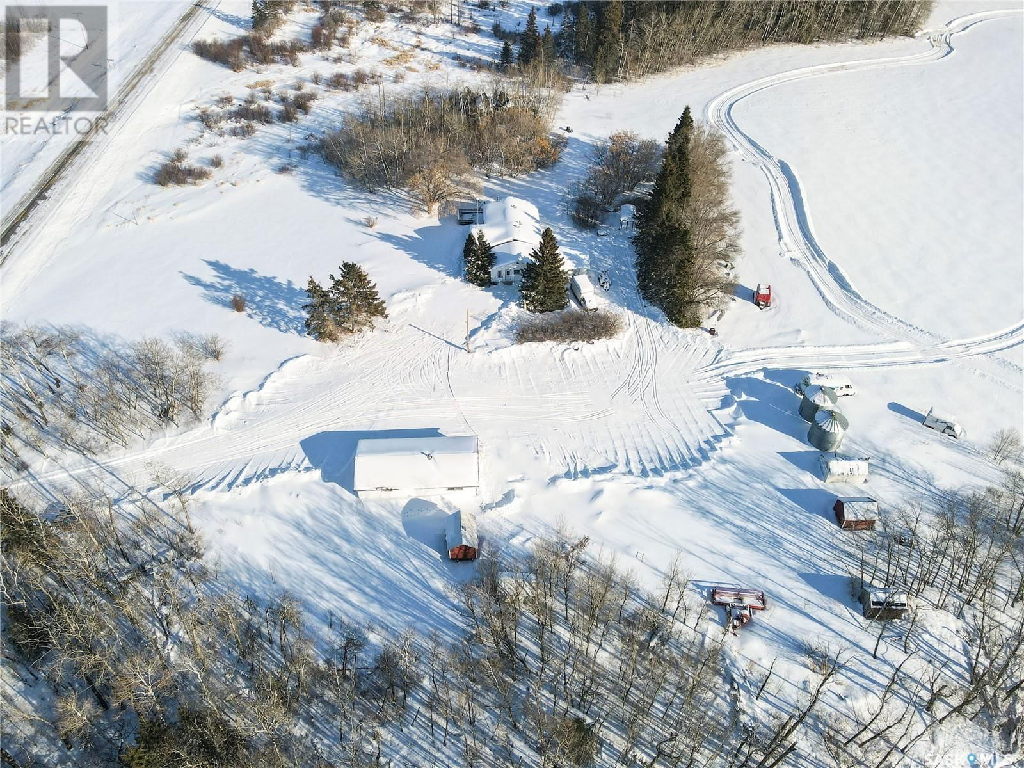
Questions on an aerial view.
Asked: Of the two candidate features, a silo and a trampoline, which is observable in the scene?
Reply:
silo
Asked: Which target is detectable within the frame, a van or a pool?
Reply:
van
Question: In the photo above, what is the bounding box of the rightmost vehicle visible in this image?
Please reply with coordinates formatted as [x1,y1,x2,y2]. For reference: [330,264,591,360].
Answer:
[921,406,968,442]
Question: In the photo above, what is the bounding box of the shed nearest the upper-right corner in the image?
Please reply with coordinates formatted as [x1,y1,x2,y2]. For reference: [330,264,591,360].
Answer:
[617,207,637,229]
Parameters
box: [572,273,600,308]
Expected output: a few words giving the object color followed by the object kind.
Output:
white van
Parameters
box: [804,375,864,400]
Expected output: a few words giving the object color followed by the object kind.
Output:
white camper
